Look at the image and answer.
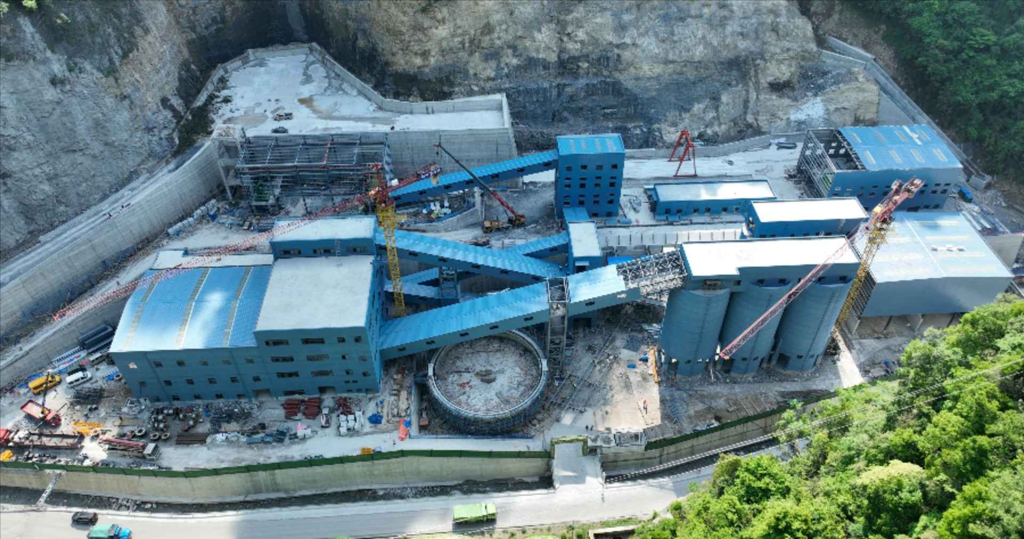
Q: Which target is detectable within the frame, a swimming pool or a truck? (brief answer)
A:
truck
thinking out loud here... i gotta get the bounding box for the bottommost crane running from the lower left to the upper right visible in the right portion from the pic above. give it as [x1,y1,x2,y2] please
[713,172,922,383]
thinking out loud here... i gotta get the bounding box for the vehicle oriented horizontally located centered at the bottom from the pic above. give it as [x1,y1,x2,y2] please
[451,504,501,529]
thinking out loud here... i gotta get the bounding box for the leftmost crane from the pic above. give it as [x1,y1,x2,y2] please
[45,161,442,348]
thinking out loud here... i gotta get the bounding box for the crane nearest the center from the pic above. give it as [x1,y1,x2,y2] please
[434,143,530,234]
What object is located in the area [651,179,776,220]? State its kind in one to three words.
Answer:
shed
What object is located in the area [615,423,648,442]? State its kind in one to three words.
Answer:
building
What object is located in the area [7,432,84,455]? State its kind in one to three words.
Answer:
trailer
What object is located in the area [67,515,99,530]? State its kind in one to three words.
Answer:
car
